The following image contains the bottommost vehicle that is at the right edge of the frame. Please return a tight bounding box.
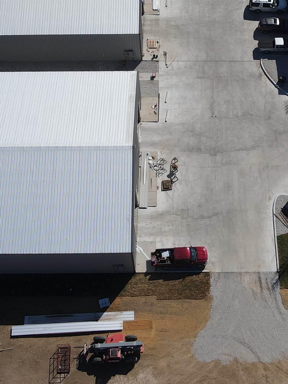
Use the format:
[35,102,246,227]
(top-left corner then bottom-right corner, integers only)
[256,38,288,56]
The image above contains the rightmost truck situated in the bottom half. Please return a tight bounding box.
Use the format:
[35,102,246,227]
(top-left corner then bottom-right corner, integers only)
[150,243,210,270]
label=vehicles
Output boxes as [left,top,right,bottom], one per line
[256,17,288,38]
[247,0,288,15]
[256,38,288,56]
[150,243,210,270]
[72,334,144,368]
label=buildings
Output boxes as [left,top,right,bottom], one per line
[0,69,141,274]
[0,0,144,62]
